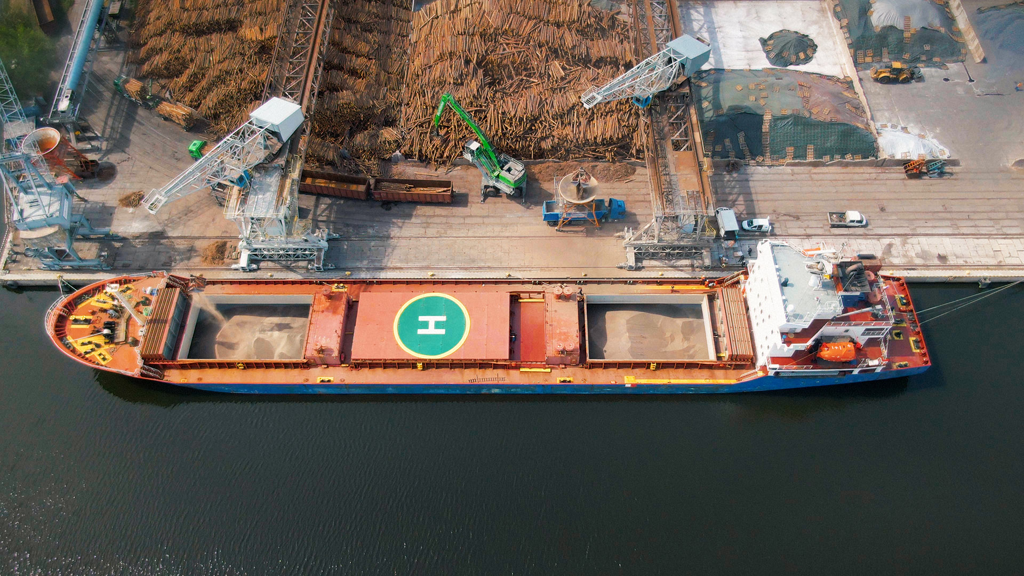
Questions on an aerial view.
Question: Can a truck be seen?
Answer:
Yes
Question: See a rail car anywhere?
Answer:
Yes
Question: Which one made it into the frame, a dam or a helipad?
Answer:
helipad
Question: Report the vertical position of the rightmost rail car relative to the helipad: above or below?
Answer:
above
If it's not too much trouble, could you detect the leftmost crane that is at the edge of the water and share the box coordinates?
[0,79,125,268]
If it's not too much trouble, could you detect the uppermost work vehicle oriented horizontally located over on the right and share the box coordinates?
[875,64,927,89]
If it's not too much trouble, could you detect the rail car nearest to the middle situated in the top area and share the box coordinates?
[369,178,458,205]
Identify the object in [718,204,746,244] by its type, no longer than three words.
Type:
truck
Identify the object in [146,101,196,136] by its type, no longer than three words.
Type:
trailer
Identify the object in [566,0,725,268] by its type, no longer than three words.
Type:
crane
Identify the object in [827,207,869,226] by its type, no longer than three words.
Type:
vehicle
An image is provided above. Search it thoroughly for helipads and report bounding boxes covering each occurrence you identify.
[394,293,470,360]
